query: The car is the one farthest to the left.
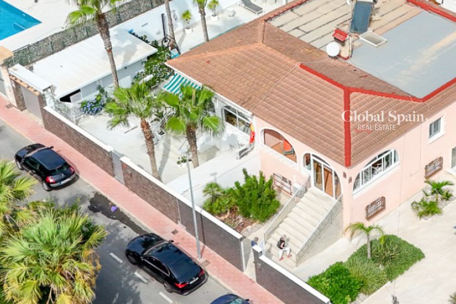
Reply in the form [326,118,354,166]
[13,144,77,190]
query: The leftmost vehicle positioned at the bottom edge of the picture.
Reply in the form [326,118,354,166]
[123,232,206,293]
